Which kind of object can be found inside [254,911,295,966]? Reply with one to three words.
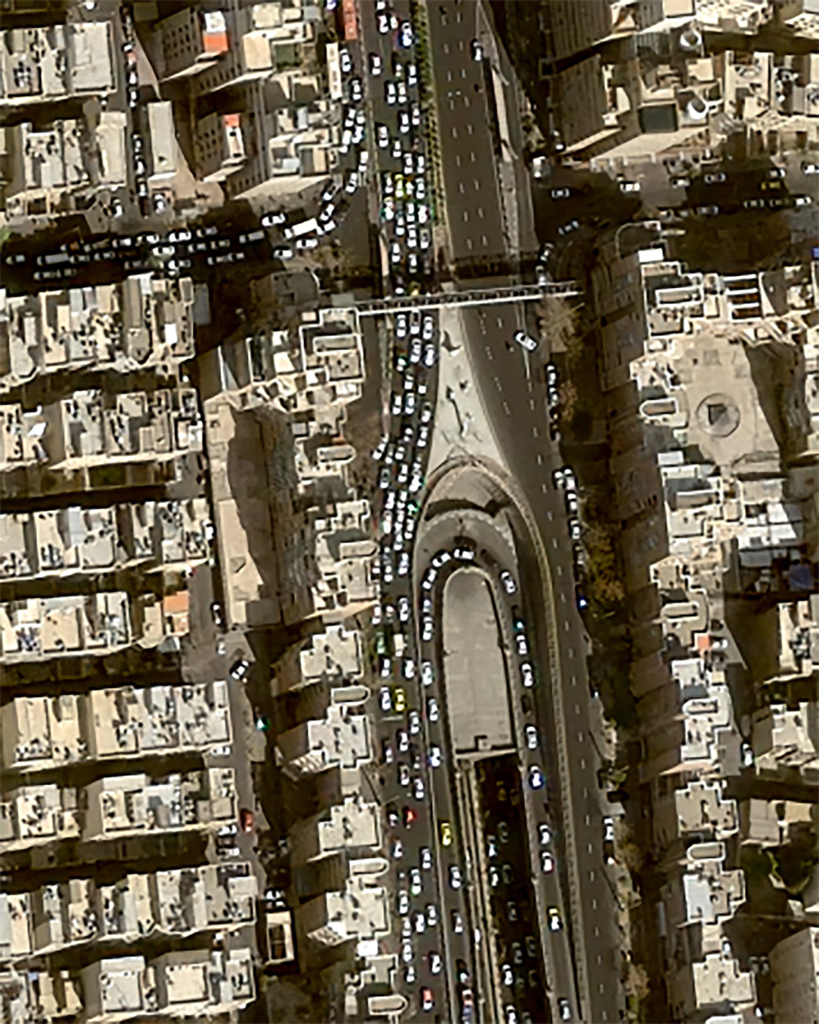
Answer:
house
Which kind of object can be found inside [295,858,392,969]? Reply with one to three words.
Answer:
building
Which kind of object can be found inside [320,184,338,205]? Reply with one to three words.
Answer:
car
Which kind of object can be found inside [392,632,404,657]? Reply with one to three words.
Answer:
vehicle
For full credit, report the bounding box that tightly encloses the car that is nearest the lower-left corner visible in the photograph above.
[212,932,225,946]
